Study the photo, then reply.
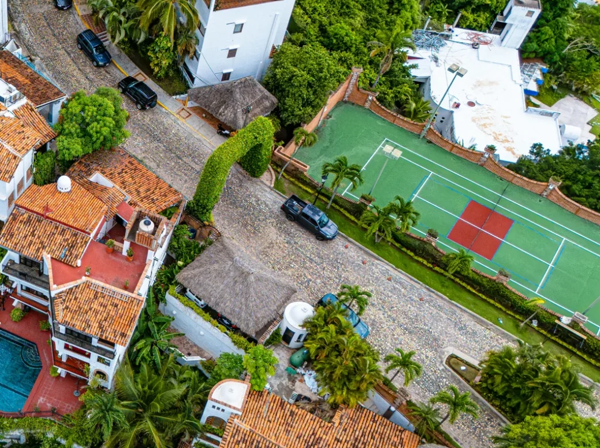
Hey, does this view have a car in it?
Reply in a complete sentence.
Yes, you can see a car in this photo.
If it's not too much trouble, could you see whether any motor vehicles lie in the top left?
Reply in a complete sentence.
Yes, looking in the top left, one can make out a motor vehicle.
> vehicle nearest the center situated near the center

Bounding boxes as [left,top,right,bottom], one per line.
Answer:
[278,189,342,242]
